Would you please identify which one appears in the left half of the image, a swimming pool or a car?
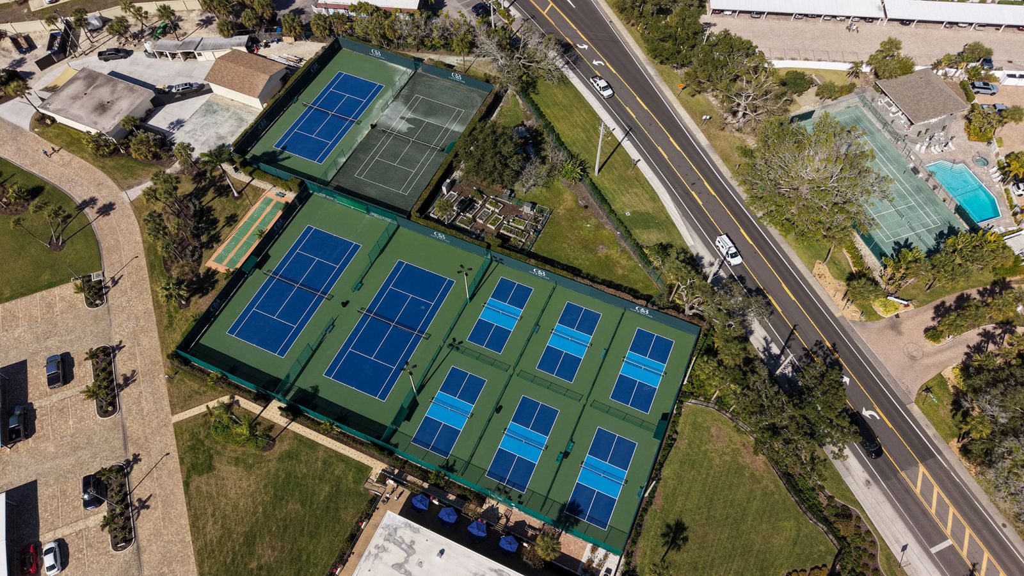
car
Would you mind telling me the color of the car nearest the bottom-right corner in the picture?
black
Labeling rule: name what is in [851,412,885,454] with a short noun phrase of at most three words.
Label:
car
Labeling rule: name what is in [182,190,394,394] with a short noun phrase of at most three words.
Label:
tennis court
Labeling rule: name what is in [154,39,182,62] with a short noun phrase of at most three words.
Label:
shed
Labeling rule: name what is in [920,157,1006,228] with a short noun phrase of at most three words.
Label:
swimming pool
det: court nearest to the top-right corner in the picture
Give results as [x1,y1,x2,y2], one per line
[789,102,968,264]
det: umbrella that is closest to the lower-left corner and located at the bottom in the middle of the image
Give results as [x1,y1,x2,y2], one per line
[410,494,431,515]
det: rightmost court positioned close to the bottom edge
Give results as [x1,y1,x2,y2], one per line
[538,400,659,554]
